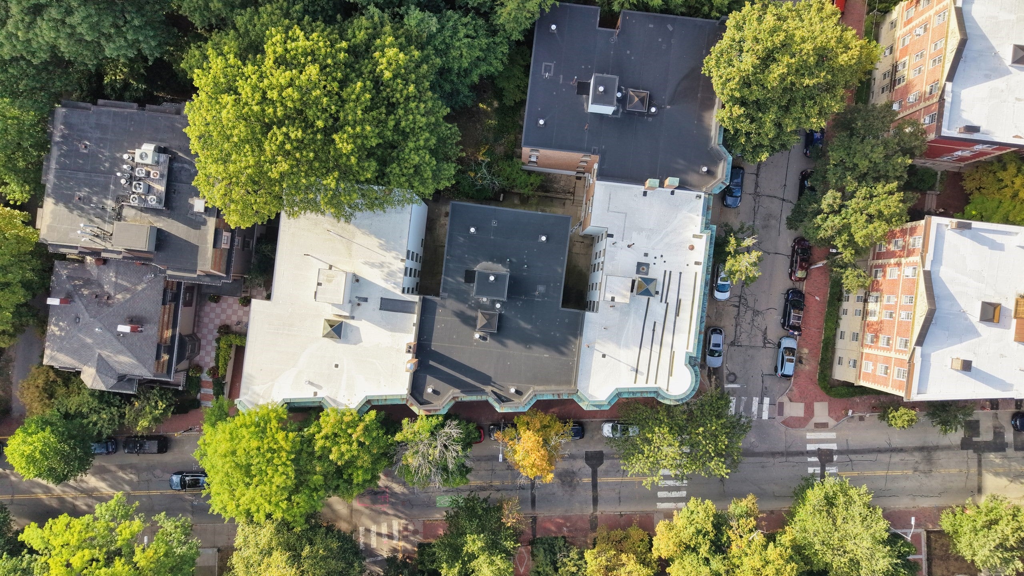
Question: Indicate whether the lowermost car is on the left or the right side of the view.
left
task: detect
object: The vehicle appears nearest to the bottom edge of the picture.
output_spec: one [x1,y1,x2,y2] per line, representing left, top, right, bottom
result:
[169,471,212,493]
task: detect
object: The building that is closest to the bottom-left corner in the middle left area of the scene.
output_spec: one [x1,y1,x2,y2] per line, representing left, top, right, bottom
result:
[43,256,213,394]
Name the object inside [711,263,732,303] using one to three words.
car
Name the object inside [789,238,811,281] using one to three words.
car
